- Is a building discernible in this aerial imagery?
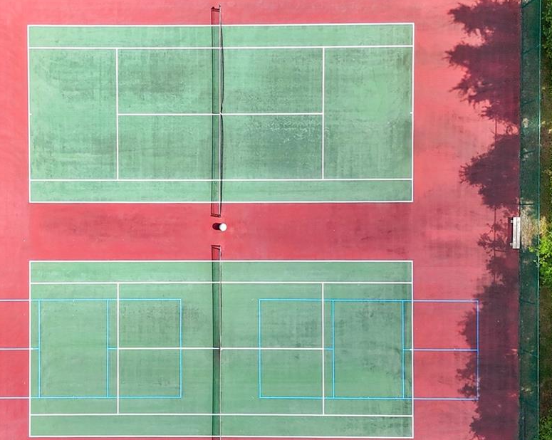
No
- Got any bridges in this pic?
No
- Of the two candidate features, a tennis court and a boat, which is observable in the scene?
tennis court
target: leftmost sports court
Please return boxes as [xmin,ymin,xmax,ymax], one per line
[0,301,181,399]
